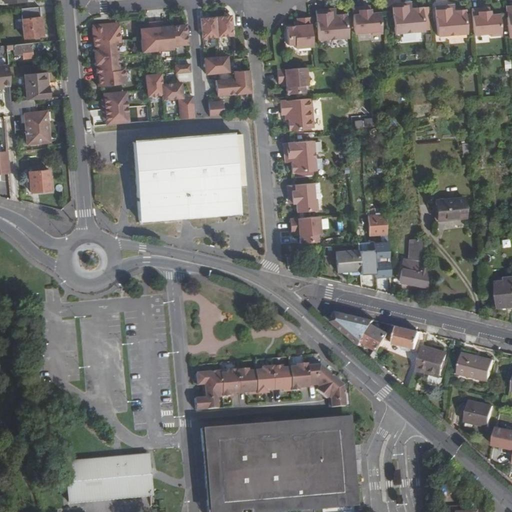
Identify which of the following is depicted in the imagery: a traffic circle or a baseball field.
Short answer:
traffic circle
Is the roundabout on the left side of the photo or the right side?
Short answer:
left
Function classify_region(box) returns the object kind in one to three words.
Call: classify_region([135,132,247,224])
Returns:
building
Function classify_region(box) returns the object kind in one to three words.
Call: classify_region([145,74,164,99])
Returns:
house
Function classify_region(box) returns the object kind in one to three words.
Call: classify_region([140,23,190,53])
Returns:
house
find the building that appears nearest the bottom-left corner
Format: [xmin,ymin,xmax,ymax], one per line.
[68,452,154,506]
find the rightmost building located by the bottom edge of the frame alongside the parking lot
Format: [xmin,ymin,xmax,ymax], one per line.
[204,414,360,512]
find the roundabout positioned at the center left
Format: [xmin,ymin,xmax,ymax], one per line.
[58,228,122,292]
